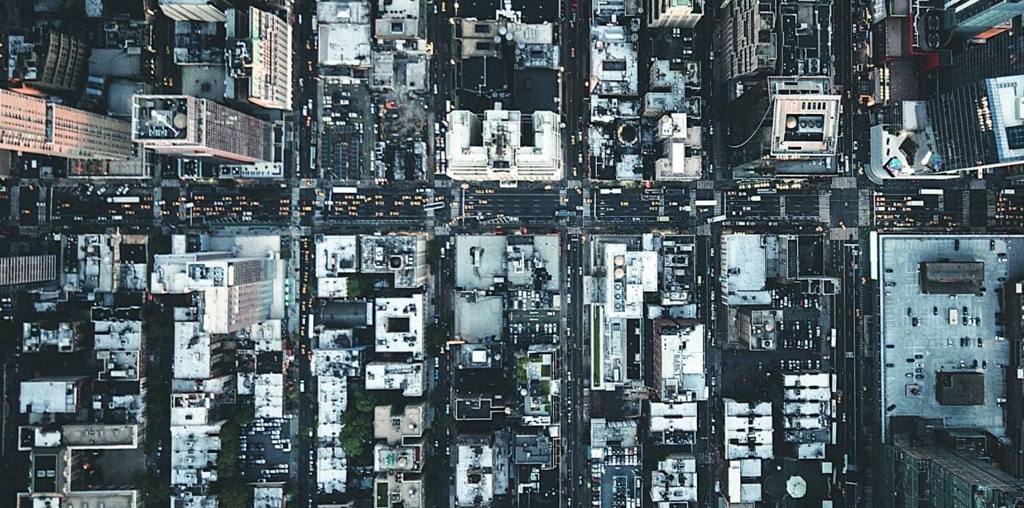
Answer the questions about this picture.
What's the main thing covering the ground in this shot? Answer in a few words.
buildings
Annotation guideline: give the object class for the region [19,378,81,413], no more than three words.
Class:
building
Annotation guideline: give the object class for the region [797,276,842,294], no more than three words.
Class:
building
